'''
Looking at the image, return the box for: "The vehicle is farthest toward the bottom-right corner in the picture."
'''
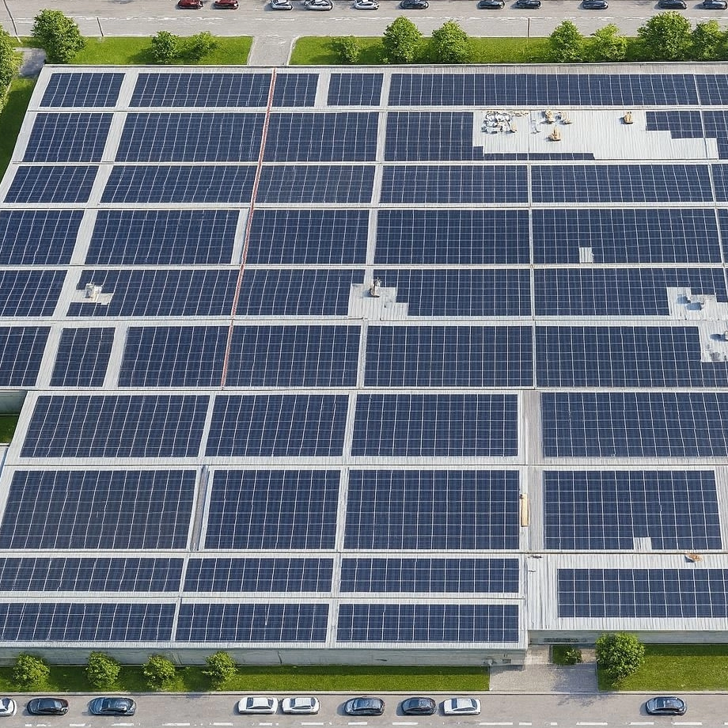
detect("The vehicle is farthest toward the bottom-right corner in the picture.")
[645,697,686,716]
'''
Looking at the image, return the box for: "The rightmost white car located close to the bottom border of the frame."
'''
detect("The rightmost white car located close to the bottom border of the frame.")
[442,697,481,716]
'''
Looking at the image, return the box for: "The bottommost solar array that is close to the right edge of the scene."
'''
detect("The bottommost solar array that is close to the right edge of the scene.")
[558,568,728,616]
